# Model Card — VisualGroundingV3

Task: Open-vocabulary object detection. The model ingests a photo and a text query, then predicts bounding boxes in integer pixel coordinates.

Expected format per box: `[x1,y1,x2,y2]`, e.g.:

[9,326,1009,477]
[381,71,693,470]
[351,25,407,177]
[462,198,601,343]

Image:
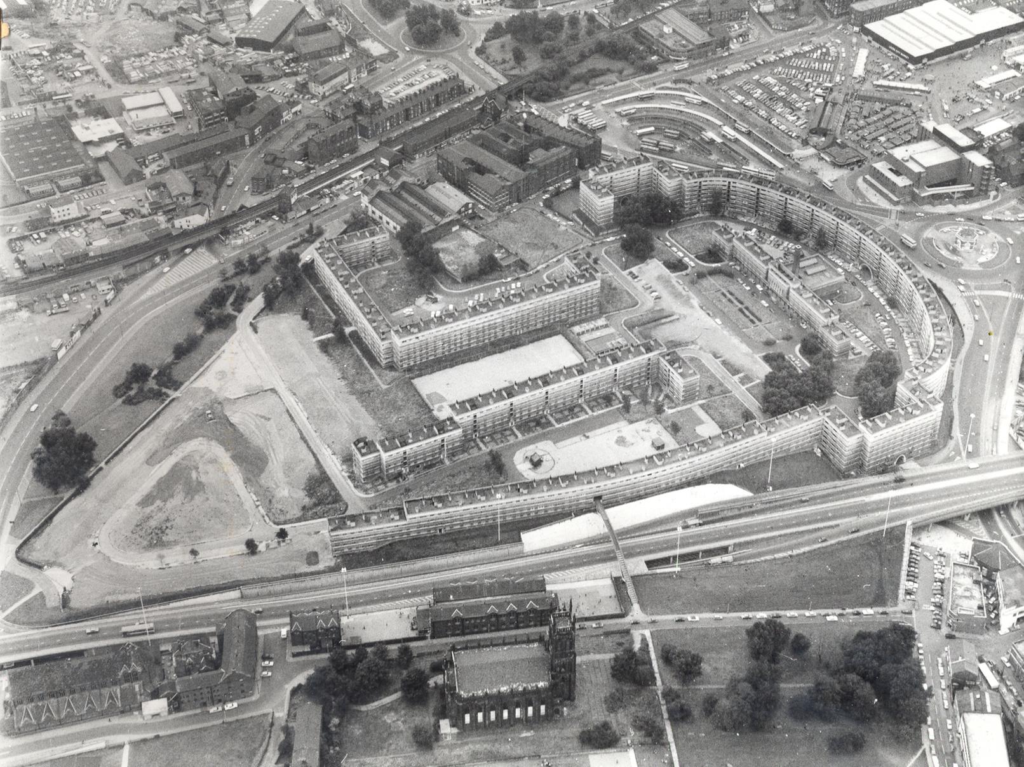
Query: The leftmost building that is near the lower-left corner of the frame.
[9,636,147,728]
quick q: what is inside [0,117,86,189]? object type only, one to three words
building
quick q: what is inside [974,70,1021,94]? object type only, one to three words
shed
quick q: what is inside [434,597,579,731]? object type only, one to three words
church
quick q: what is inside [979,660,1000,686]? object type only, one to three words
truck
